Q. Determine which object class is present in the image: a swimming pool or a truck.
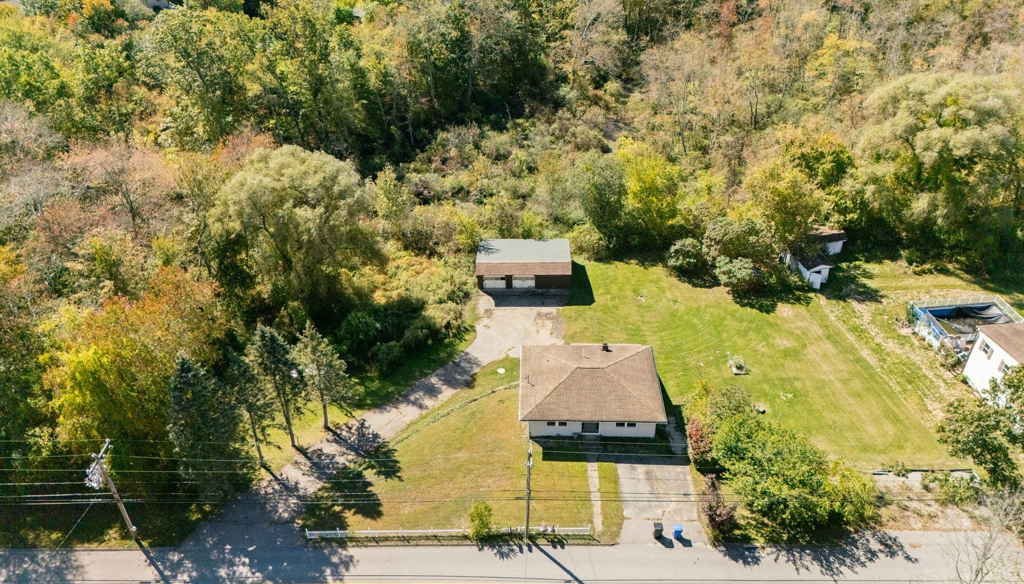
swimming pool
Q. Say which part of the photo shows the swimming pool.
right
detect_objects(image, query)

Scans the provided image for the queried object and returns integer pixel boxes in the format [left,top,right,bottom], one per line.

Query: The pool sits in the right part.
[899,294,1018,372]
